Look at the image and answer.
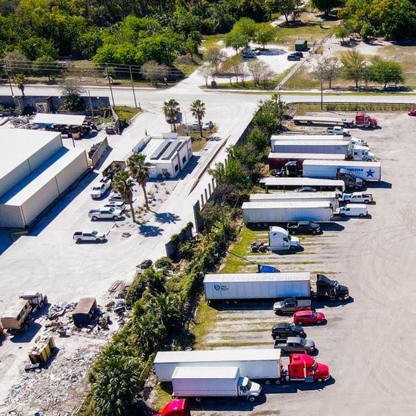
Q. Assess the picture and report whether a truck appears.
Yes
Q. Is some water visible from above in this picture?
No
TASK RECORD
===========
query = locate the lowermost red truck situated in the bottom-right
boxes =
[270,349,335,384]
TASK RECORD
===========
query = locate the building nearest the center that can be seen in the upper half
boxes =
[124,136,192,178]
